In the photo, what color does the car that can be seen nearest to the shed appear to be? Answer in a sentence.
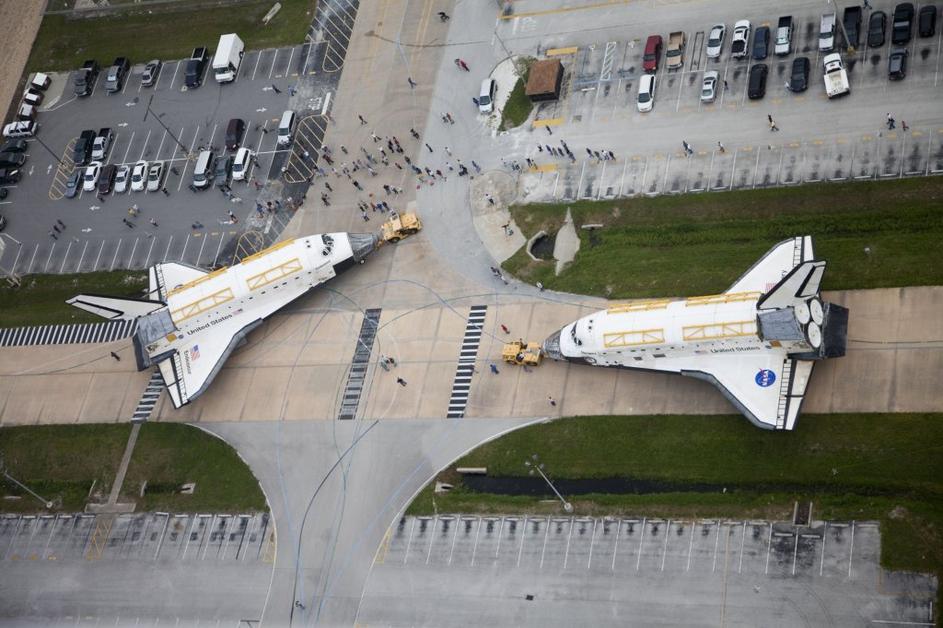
The car that can be seen nearest to the shed is white.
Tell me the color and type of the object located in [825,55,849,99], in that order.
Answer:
white truck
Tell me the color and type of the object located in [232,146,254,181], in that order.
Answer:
white car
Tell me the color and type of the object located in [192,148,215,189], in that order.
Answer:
white vehicle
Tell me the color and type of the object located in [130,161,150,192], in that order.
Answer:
white car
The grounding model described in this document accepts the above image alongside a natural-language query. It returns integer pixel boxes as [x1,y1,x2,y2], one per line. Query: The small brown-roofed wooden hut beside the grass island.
[524,57,566,108]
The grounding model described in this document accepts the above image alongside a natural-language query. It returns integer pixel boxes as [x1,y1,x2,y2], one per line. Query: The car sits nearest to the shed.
[475,79,499,115]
